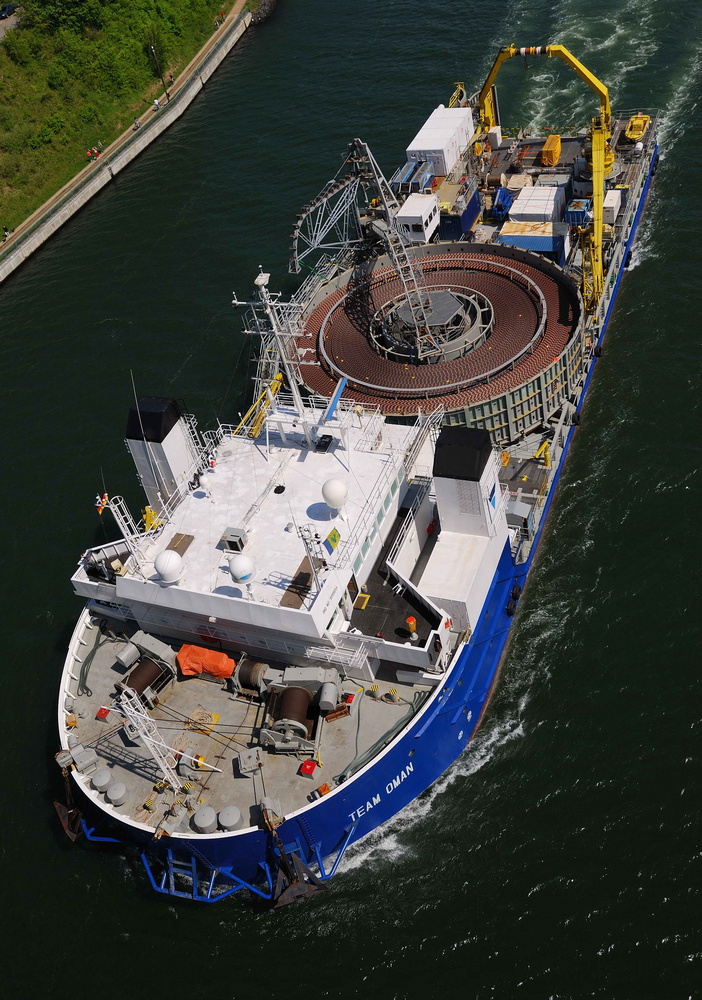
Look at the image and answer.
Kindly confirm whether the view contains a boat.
Yes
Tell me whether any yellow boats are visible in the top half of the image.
Yes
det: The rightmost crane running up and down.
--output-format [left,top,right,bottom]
[581,106,621,315]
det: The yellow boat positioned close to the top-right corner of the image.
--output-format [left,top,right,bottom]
[626,109,652,141]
